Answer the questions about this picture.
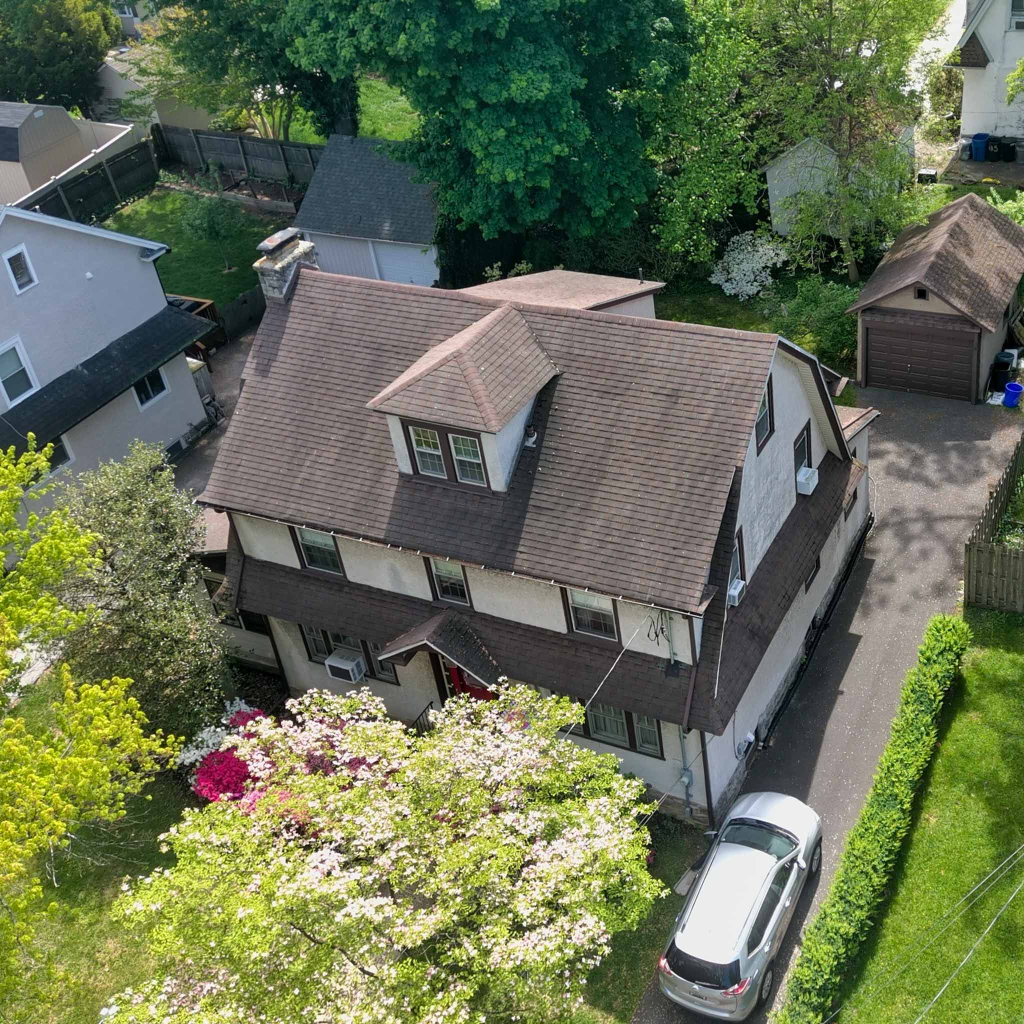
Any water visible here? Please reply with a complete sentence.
No, no water is visible.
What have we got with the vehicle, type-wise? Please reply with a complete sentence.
The vehicle in the image is an automobile.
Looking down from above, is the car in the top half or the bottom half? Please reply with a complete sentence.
The car is in the bottom half of the image.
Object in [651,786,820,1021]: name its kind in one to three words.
car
